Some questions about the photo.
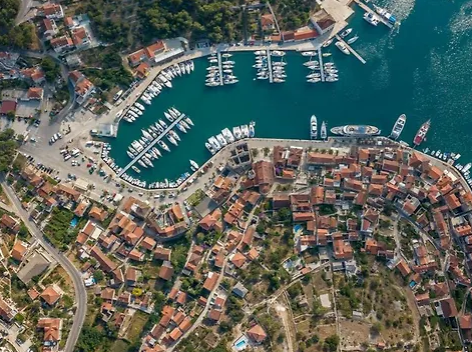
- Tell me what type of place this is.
residential area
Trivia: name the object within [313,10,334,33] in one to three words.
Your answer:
house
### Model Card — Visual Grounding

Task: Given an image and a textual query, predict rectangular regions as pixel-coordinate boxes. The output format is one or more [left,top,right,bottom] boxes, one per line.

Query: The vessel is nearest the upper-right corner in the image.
[377,5,395,22]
